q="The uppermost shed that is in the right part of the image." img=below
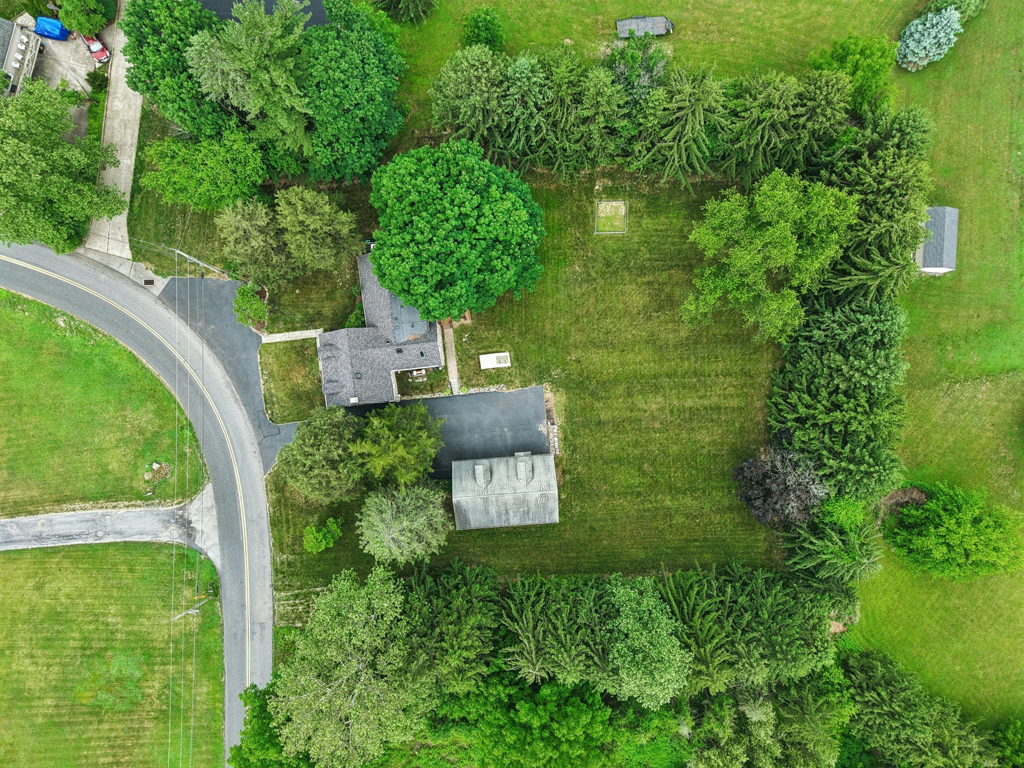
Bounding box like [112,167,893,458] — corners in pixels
[906,206,958,273]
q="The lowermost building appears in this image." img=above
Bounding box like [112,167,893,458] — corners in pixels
[451,451,559,531]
